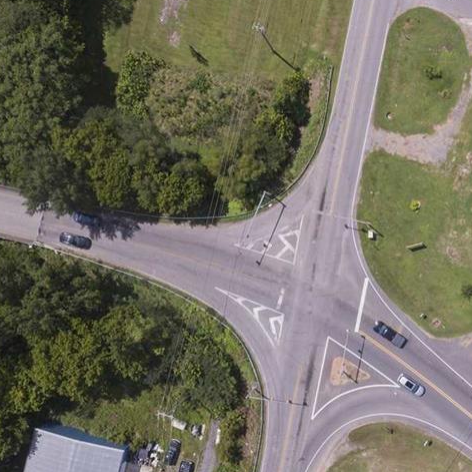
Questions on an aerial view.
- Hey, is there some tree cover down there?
Yes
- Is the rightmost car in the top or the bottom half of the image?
bottom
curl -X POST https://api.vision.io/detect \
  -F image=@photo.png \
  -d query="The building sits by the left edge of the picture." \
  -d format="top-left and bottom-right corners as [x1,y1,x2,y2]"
[23,423,130,472]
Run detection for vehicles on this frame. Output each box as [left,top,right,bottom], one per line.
[396,371,426,395]
[166,435,183,465]
[373,320,408,349]
[61,232,93,248]
[175,457,190,472]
